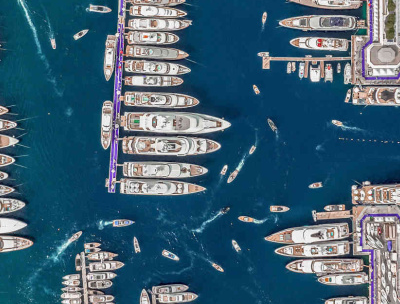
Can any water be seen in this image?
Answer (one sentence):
Yes, there is water in the image.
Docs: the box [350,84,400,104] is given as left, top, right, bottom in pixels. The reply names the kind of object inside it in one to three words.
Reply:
boat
